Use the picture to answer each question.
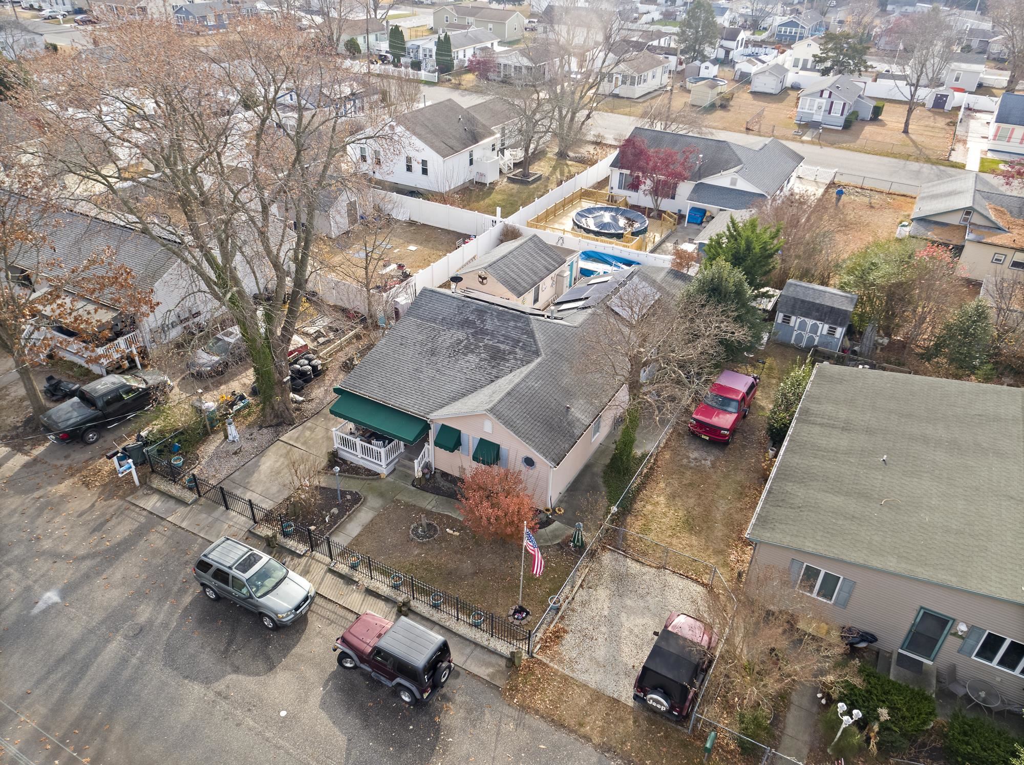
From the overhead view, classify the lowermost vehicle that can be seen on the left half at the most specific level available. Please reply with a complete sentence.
I'd say the lowermost vehicle that can be seen on the left half is an automobile.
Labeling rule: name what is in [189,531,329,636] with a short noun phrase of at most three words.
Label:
car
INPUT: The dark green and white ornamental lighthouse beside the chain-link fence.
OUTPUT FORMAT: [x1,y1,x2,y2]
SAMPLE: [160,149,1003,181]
[566,522,585,555]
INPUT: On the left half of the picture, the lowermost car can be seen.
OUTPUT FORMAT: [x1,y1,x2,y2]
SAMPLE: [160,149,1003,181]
[327,603,461,708]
